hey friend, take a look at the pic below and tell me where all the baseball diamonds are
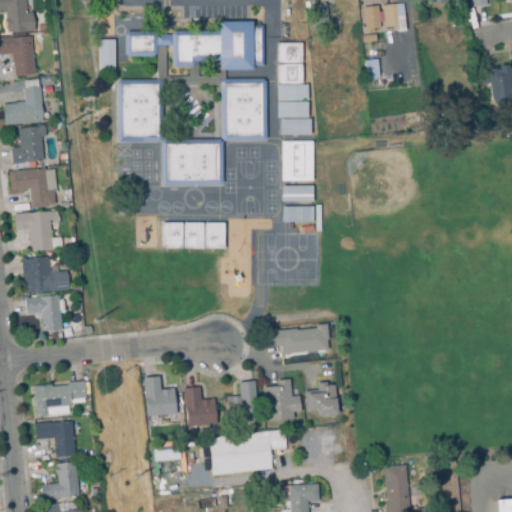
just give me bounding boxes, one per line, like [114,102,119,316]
[350,144,512,451]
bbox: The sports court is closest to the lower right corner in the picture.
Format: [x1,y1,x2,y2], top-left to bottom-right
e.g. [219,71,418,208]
[257,228,320,286]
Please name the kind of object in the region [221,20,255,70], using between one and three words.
building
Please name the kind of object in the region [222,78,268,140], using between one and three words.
building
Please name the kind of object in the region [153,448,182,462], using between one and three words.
shed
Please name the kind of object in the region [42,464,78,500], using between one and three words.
house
